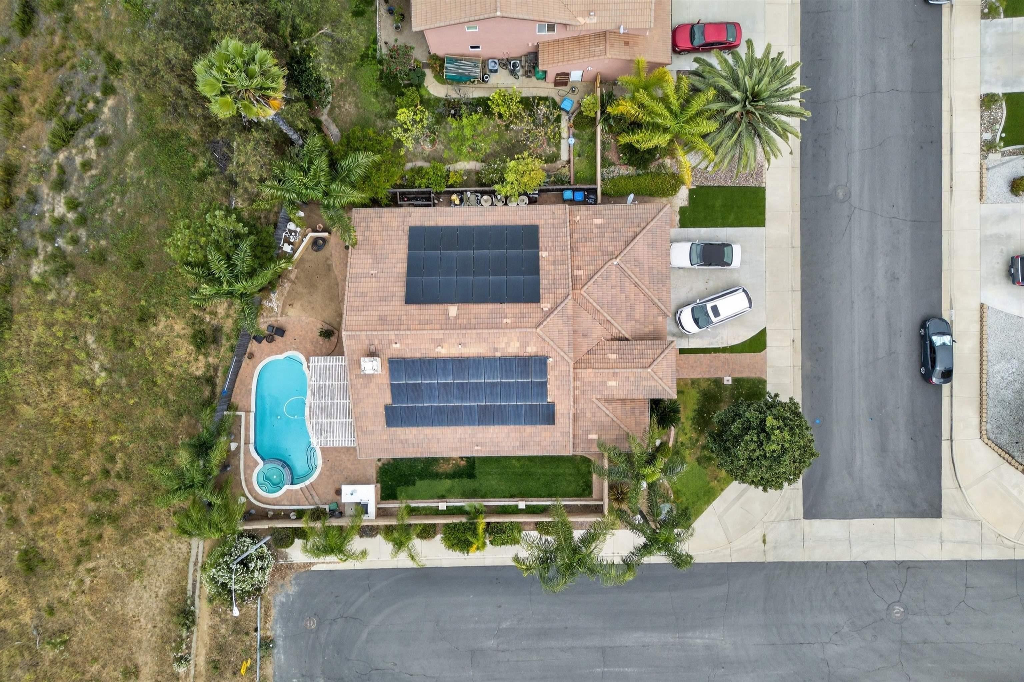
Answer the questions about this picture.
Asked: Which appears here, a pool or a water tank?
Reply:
pool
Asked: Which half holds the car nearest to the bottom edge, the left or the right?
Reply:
right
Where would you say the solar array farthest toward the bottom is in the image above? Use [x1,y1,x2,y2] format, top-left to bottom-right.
[385,357,555,427]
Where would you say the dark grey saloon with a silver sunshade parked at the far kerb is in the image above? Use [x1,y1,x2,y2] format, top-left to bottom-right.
[919,317,958,384]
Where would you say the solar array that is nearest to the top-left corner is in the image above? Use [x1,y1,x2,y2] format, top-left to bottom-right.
[405,225,539,304]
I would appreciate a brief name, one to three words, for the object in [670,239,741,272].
car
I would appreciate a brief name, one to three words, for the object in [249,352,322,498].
swimming pool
